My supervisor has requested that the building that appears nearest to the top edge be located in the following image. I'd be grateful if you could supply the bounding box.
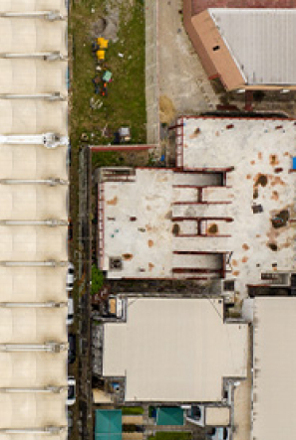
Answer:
[179,7,296,94]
